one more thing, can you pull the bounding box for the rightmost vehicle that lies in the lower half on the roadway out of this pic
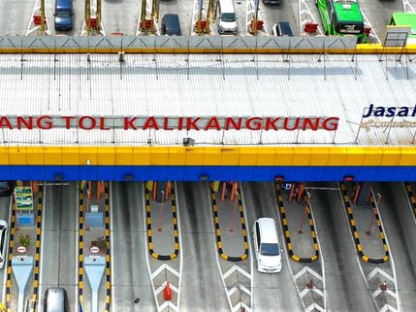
[250,210,284,268]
